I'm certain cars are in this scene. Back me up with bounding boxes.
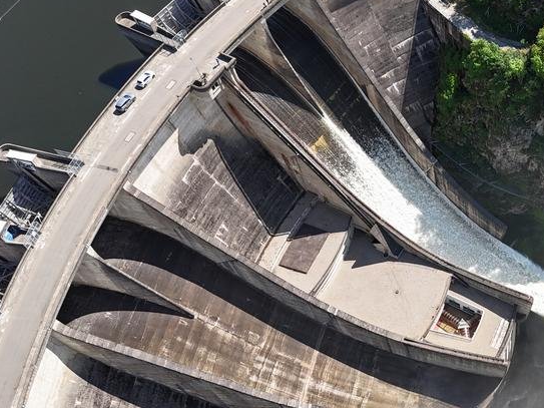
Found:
[132,69,158,90]
[109,92,140,115]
